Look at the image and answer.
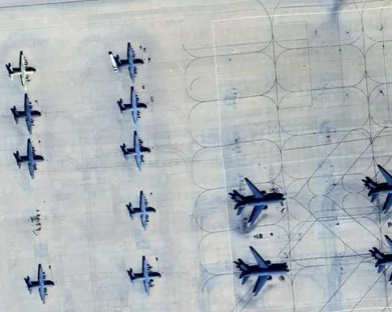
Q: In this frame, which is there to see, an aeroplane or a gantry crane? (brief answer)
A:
aeroplane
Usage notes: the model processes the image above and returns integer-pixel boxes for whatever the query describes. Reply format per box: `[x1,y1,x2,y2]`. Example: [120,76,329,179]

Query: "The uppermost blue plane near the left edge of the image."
[15,101,40,134]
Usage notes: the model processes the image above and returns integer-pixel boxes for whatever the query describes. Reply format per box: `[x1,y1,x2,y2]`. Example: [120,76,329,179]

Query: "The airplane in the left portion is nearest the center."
[125,137,150,170]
